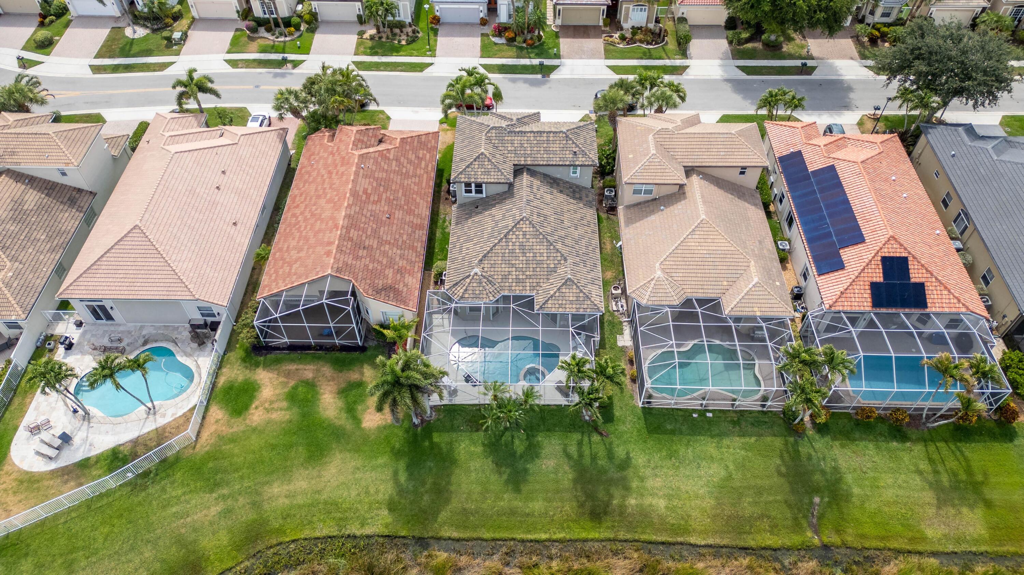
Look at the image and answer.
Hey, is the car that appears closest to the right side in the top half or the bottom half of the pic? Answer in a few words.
top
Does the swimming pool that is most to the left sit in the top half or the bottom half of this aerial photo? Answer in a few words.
bottom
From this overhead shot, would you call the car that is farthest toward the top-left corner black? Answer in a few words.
No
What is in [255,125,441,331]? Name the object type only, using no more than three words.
house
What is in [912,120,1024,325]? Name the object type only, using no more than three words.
house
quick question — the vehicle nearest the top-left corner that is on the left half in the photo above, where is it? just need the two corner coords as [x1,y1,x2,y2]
[242,106,271,126]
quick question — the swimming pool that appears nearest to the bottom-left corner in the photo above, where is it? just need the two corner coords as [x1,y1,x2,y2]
[70,343,198,421]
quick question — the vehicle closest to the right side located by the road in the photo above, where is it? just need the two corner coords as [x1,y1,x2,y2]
[821,110,851,135]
